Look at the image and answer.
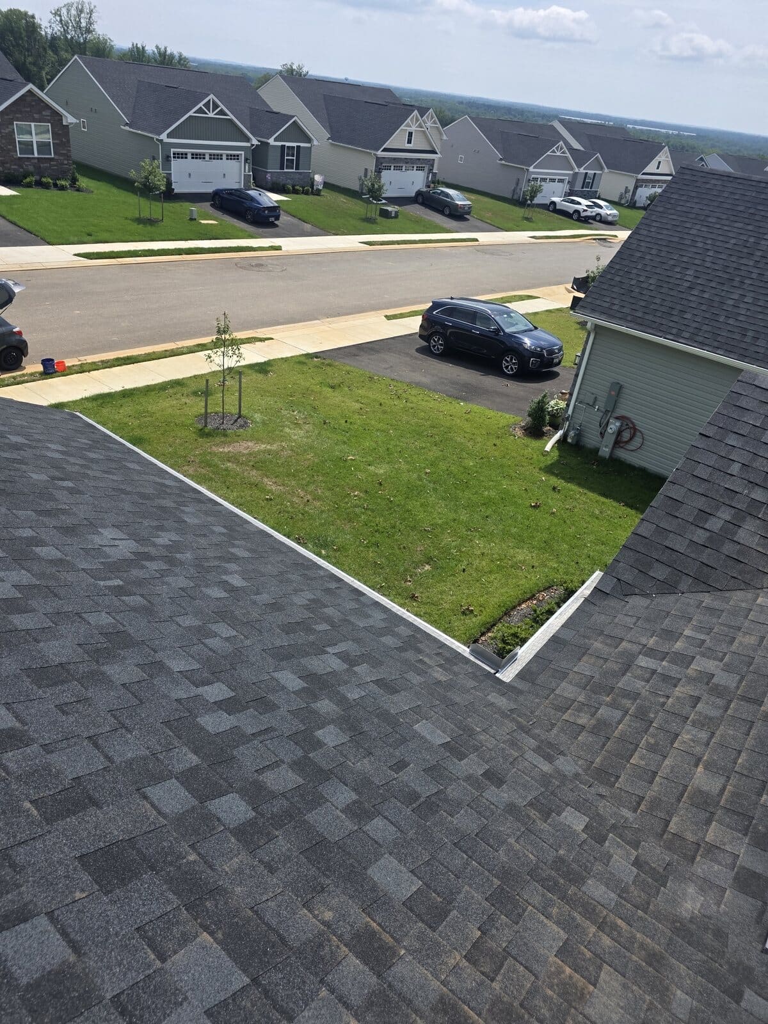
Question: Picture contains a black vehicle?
Yes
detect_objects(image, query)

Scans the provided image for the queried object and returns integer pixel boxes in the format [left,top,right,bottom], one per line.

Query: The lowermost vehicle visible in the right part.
[418,297,571,377]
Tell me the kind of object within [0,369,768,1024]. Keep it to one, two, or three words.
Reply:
house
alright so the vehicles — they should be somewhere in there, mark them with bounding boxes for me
[0,278,28,370]
[213,189,287,222]
[545,196,594,219]
[413,187,470,212]
[585,200,616,221]
[418,297,571,377]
